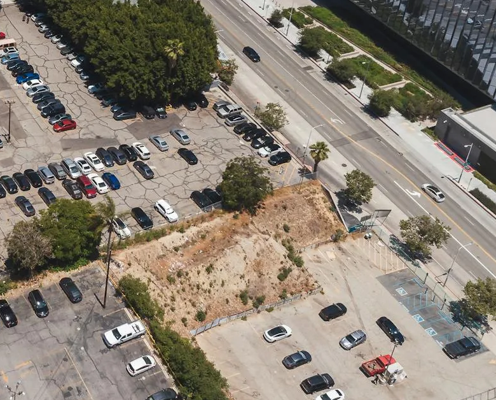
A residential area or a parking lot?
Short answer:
parking lot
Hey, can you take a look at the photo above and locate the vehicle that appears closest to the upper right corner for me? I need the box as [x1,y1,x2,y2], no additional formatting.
[417,181,449,206]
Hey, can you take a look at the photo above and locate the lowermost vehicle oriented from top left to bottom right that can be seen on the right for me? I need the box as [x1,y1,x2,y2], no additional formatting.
[371,315,410,349]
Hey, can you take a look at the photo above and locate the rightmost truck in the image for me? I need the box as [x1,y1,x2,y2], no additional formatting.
[439,332,485,363]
